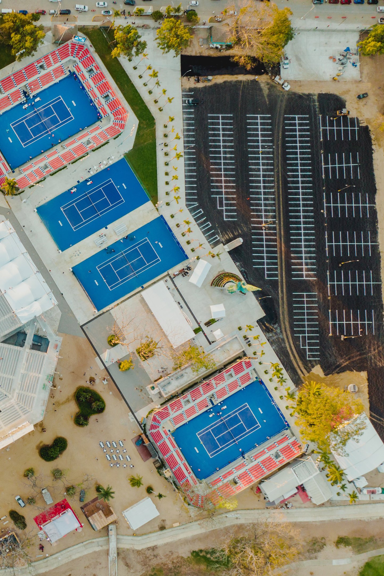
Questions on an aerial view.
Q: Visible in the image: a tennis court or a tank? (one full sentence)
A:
I can see a tennis court in this picture.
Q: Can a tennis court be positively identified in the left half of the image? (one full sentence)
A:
Yes, you'll find a tennis court in the left half of the image.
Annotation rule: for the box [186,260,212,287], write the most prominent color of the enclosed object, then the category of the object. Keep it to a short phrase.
white tent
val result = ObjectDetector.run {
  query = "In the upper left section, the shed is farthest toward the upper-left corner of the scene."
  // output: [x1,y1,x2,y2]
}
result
[52,24,78,45]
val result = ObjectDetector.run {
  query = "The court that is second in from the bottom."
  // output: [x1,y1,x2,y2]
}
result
[72,215,189,311]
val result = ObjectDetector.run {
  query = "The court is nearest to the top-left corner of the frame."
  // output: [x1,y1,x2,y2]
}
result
[0,71,102,170]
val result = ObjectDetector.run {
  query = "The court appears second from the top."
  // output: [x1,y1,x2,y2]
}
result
[36,158,152,251]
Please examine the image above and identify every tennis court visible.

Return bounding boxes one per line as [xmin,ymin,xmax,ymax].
[72,215,189,311]
[172,379,288,480]
[36,158,152,251]
[0,71,102,170]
